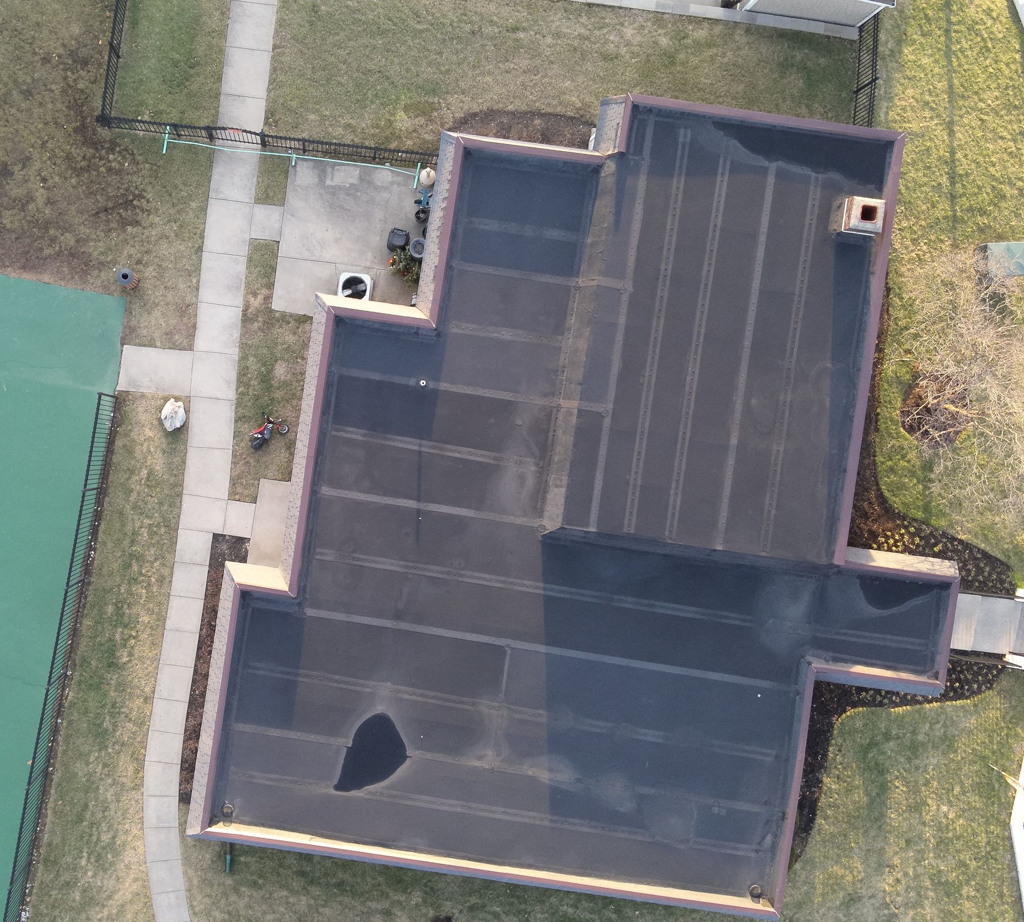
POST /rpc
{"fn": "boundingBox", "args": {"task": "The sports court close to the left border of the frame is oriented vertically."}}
[0,274,126,922]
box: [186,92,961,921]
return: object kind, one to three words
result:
building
